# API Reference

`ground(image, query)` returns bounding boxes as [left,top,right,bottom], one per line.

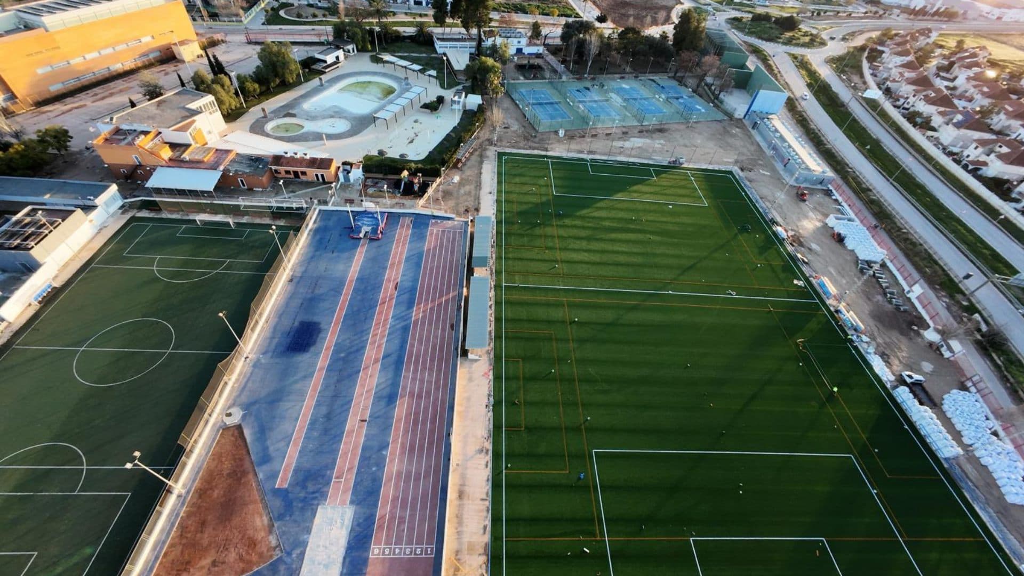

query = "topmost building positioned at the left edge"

[0,0,211,114]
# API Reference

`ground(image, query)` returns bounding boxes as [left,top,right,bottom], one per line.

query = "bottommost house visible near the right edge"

[964,170,1024,216]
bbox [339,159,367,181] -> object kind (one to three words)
building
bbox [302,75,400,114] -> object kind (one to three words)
swimming pool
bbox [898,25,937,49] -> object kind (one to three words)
house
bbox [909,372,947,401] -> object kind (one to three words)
truck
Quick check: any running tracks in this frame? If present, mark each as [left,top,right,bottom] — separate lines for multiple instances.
[150,213,468,576]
